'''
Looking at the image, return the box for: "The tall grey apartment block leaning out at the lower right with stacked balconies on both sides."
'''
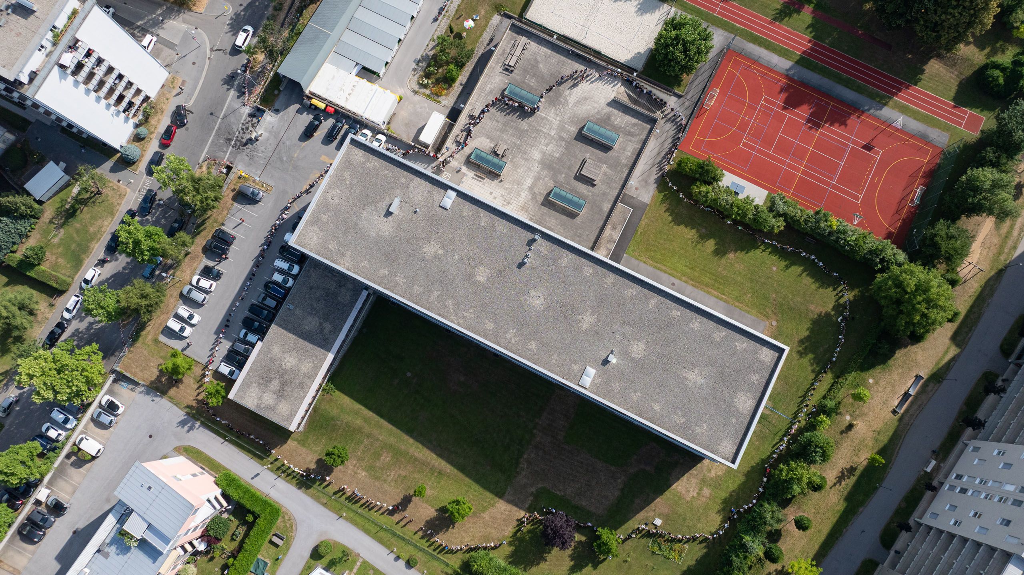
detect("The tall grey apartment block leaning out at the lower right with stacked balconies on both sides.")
[902,309,1024,575]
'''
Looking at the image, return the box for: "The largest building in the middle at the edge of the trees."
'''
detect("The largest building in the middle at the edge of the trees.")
[290,135,788,470]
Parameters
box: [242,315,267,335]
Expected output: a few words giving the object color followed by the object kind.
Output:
black car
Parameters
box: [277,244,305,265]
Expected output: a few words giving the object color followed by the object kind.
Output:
black vehicle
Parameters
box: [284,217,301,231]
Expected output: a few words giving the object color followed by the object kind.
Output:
black car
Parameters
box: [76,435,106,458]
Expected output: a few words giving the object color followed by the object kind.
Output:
white vehicle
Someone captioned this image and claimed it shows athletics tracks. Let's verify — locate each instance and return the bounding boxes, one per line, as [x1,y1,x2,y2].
[686,0,984,134]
